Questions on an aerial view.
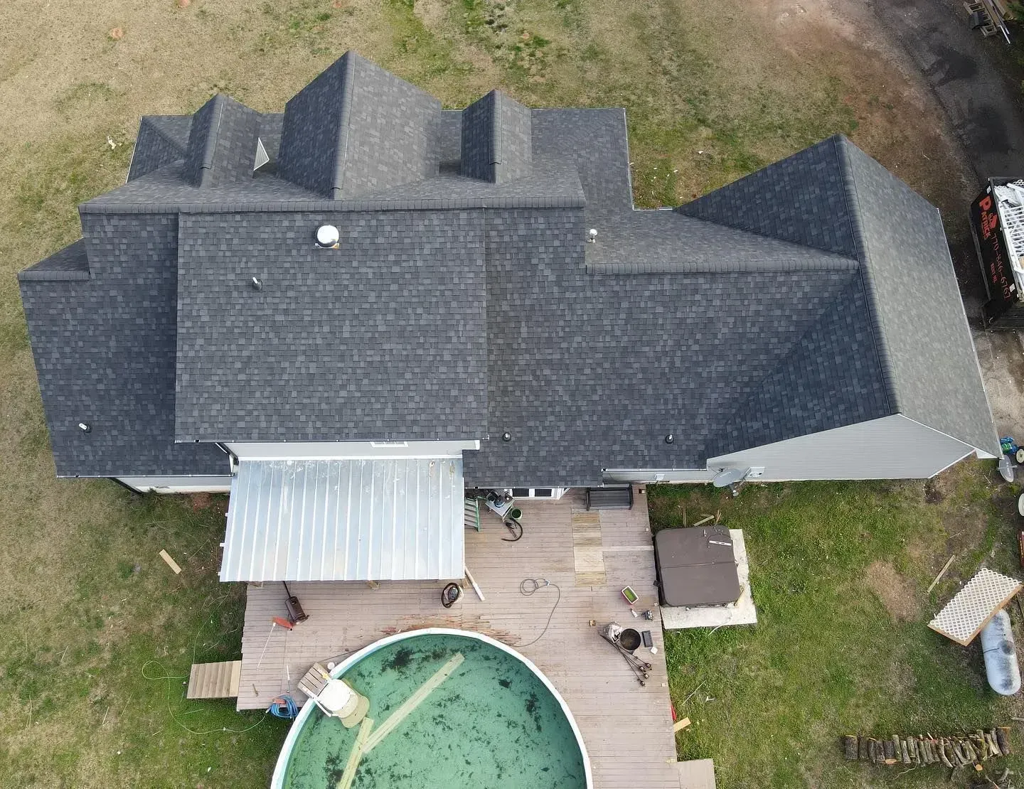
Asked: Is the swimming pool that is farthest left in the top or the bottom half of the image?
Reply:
bottom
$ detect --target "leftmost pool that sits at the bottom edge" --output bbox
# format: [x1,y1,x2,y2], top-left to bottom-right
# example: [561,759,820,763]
[271,625,592,789]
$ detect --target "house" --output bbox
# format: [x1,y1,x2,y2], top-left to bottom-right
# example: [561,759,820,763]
[20,51,1004,505]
